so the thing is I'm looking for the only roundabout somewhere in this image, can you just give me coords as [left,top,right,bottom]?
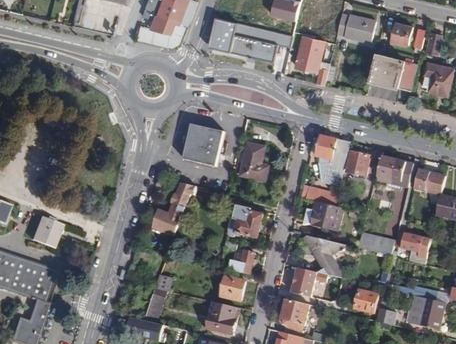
[120,52,184,118]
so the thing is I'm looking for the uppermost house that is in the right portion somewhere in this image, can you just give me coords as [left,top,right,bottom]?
[270,0,298,22]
